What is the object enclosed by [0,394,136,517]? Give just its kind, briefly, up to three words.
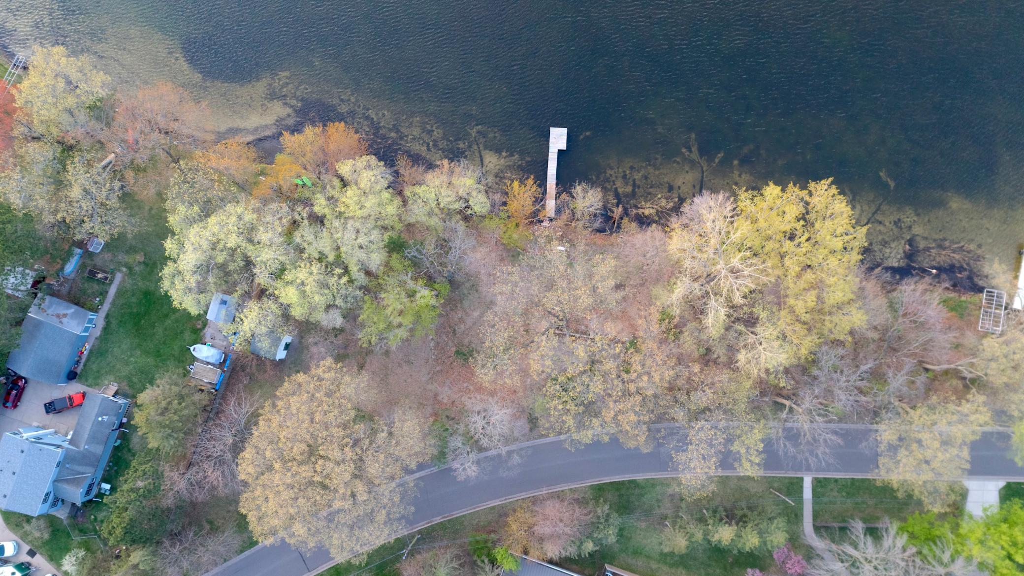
house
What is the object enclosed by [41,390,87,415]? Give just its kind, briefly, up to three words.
truck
